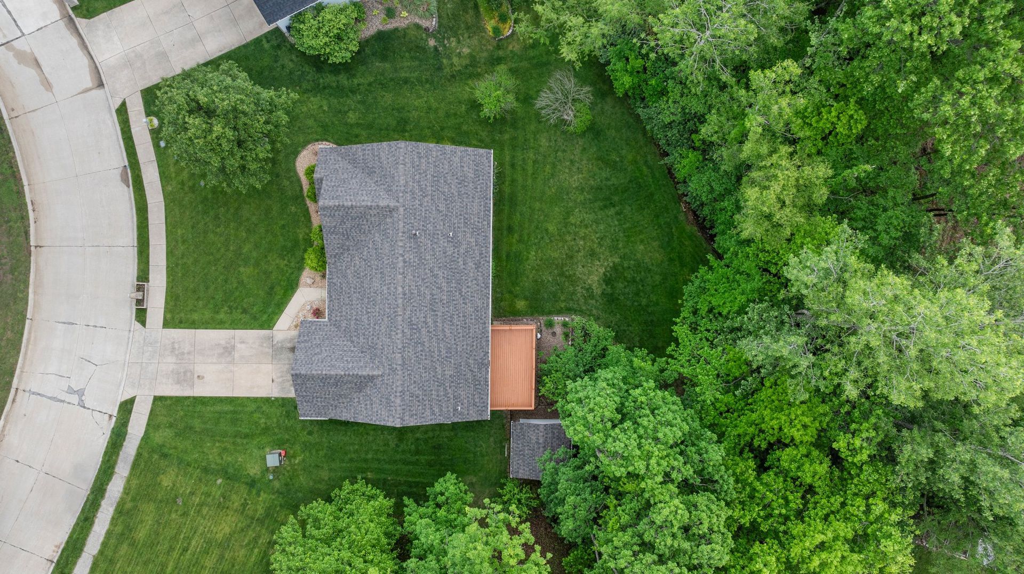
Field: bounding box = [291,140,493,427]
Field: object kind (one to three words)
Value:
house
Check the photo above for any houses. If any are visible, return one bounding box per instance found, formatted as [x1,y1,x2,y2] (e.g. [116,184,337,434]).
[255,0,349,37]
[291,140,493,427]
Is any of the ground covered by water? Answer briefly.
No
